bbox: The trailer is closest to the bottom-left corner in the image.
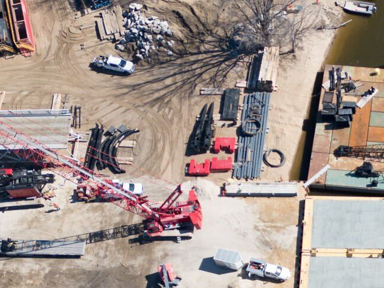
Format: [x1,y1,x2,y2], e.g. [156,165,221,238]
[0,239,85,260]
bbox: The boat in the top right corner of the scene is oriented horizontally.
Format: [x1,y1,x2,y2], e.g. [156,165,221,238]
[343,1,377,17]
